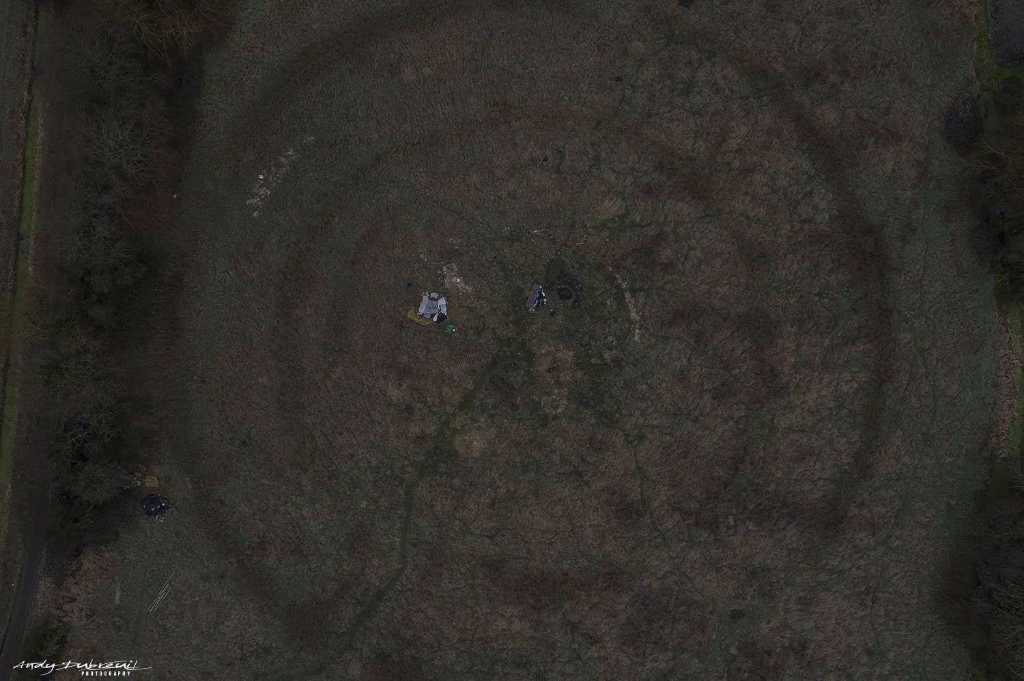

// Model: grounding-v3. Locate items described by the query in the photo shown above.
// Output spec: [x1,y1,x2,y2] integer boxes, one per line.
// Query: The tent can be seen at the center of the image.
[416,291,448,321]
